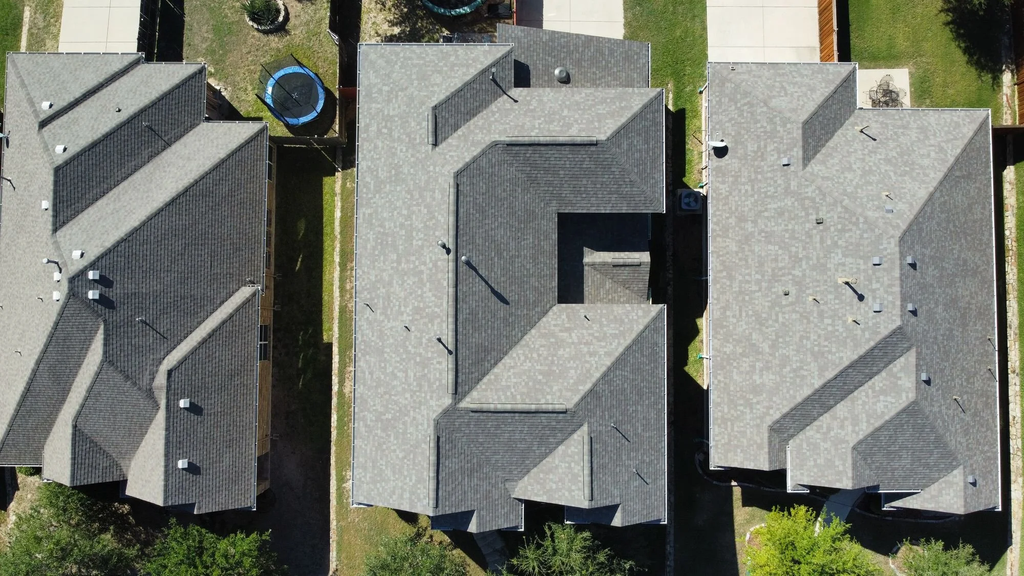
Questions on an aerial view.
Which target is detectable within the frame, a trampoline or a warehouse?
trampoline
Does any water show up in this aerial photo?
No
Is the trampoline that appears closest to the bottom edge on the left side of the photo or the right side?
left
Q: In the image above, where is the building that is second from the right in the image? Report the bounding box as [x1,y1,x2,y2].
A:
[351,22,667,533]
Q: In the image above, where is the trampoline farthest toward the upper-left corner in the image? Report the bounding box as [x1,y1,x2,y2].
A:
[253,54,330,130]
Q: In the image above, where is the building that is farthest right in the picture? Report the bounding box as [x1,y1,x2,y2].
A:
[694,61,1002,514]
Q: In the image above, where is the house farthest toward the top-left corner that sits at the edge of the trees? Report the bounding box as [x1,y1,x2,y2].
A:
[0,51,287,514]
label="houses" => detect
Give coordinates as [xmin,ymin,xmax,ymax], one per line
[694,61,1002,514]
[0,51,287,514]
[351,22,667,533]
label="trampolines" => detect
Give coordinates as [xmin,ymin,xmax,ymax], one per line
[253,54,330,130]
[426,0,483,21]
